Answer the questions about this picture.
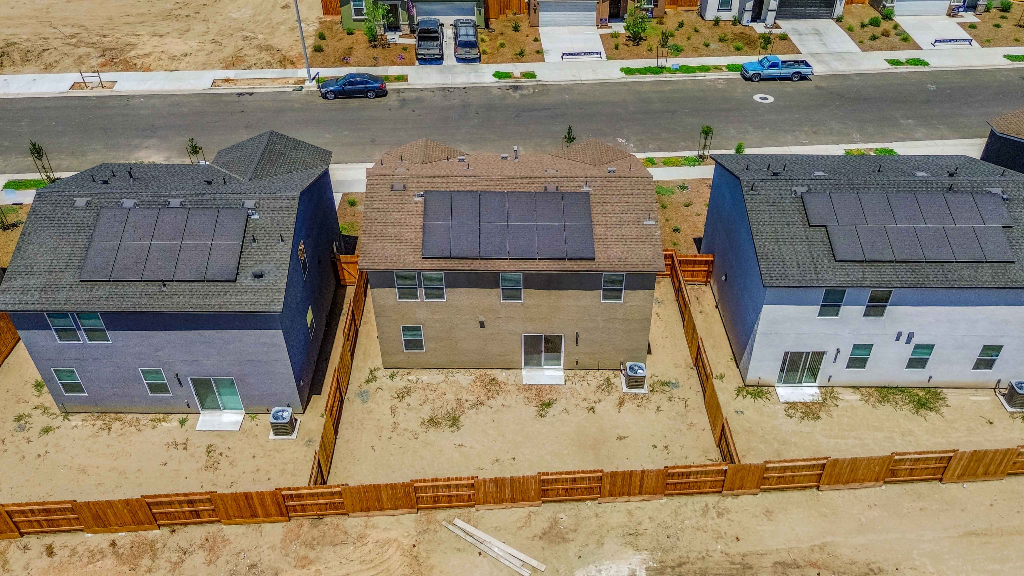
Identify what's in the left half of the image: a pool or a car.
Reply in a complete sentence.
The feature located in the left half of the image is a car.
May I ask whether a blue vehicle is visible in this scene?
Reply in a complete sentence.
Yes, this view includes a blue vehicle.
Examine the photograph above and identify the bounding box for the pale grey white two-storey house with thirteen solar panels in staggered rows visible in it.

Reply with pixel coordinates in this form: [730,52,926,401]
[700,156,1024,386]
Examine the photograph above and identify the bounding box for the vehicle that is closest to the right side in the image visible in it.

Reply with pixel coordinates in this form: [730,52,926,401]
[735,51,815,80]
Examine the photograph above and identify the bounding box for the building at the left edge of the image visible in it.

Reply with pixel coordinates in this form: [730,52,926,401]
[0,131,342,414]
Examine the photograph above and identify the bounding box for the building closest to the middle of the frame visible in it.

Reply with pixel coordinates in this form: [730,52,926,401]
[360,137,668,369]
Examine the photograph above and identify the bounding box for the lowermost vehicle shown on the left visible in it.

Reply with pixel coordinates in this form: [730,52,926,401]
[315,70,390,98]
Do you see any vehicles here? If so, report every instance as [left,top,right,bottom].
[315,70,390,98]
[735,51,815,80]
[454,19,484,55]
[416,18,449,58]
